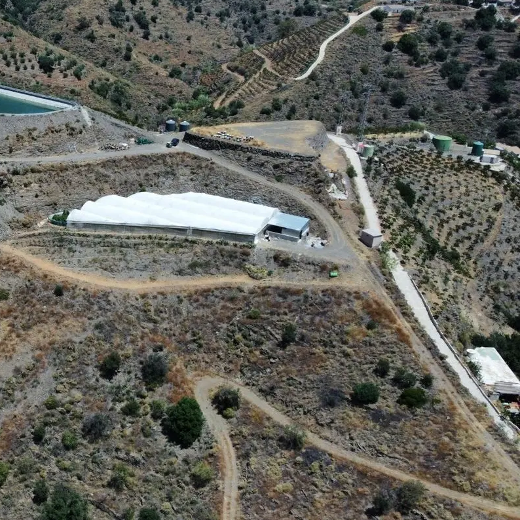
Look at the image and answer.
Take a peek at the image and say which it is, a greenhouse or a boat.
greenhouse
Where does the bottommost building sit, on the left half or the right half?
right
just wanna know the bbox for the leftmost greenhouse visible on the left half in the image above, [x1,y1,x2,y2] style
[67,190,279,245]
